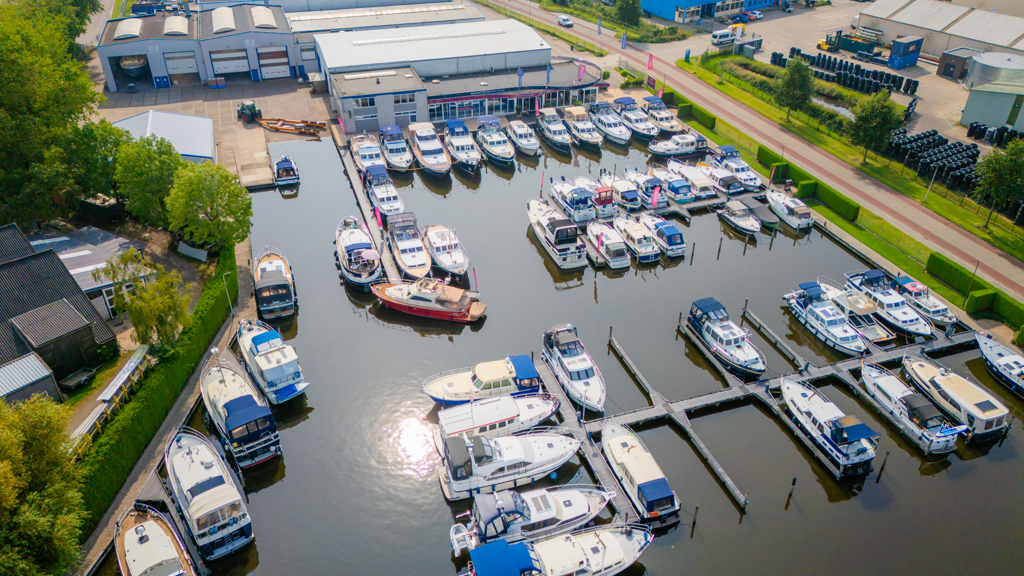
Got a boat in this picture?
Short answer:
Yes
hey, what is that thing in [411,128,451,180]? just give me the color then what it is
white boat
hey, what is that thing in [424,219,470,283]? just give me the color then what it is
white boat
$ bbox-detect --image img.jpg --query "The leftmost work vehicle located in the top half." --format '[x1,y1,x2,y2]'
[234,100,263,120]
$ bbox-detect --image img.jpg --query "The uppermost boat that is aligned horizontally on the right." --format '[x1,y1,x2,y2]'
[647,134,714,158]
